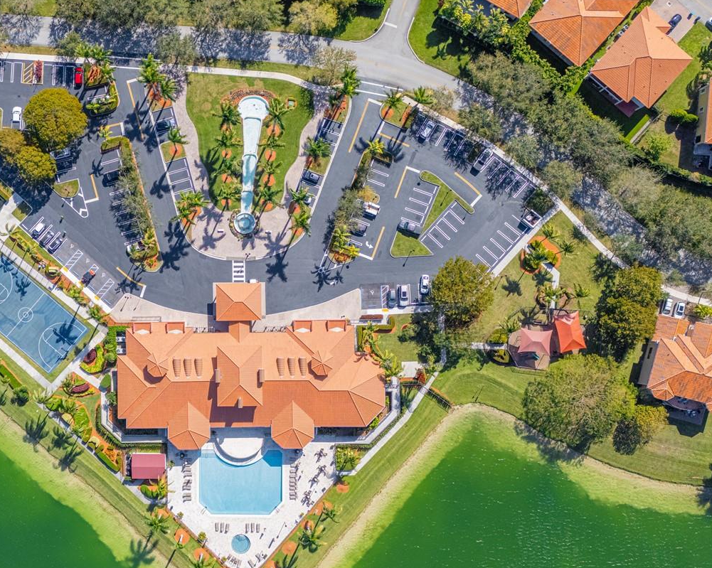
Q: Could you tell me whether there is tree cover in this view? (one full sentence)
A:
Yes, there's tree cover in this view.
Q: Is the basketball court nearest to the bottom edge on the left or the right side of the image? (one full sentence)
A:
You can find the basketball court nearest to the bottom edge on the left side of the picture.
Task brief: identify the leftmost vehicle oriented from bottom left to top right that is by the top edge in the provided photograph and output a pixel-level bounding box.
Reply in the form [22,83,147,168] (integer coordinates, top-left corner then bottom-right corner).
[666,12,682,31]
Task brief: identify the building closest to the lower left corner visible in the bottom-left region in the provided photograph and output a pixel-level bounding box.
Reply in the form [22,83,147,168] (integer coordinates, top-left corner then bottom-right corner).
[132,455,166,479]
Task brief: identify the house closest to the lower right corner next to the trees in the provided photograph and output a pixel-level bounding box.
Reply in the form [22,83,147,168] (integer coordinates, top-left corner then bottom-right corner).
[639,315,712,426]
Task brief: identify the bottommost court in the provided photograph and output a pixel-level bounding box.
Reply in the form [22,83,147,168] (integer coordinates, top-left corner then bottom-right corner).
[0,252,90,376]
